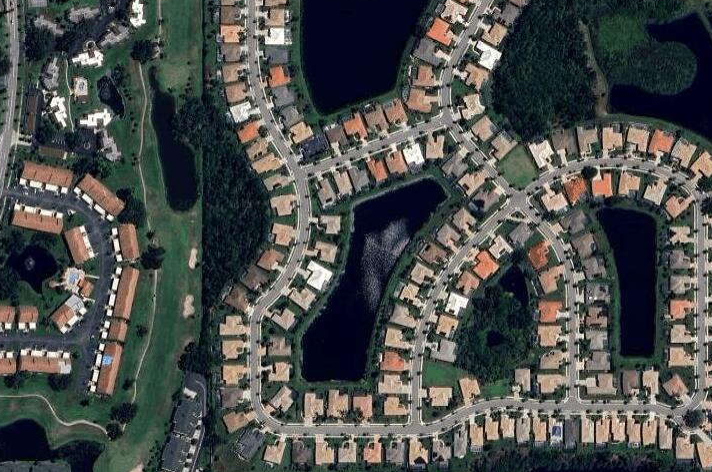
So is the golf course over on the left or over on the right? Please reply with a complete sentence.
You can find the golf course on the left side of the picture.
